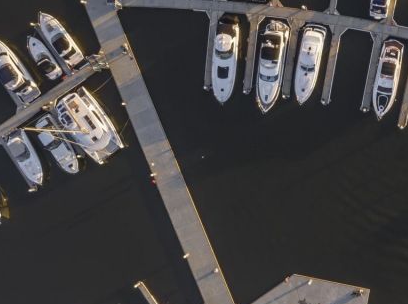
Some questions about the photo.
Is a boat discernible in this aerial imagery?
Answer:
Yes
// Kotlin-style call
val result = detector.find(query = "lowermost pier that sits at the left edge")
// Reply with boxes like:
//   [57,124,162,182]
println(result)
[0,23,95,188]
